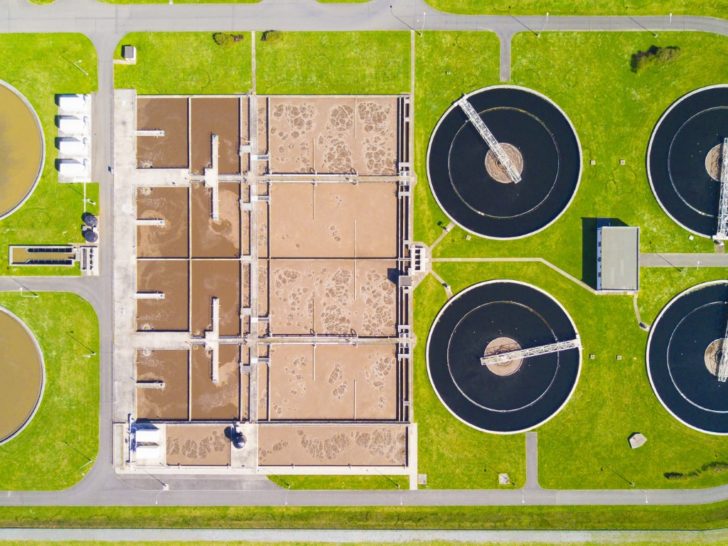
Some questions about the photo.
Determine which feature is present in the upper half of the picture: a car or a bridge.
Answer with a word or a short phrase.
bridge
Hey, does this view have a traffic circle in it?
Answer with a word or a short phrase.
No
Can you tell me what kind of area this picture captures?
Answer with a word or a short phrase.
industrial area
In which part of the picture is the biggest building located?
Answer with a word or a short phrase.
right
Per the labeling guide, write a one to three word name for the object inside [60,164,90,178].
building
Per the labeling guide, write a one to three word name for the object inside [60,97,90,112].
building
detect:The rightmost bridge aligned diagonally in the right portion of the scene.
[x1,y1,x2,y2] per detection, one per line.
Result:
[456,96,523,183]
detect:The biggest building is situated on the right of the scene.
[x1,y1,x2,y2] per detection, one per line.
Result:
[597,227,640,291]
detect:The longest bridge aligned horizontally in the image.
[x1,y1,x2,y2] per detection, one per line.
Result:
[480,336,581,365]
